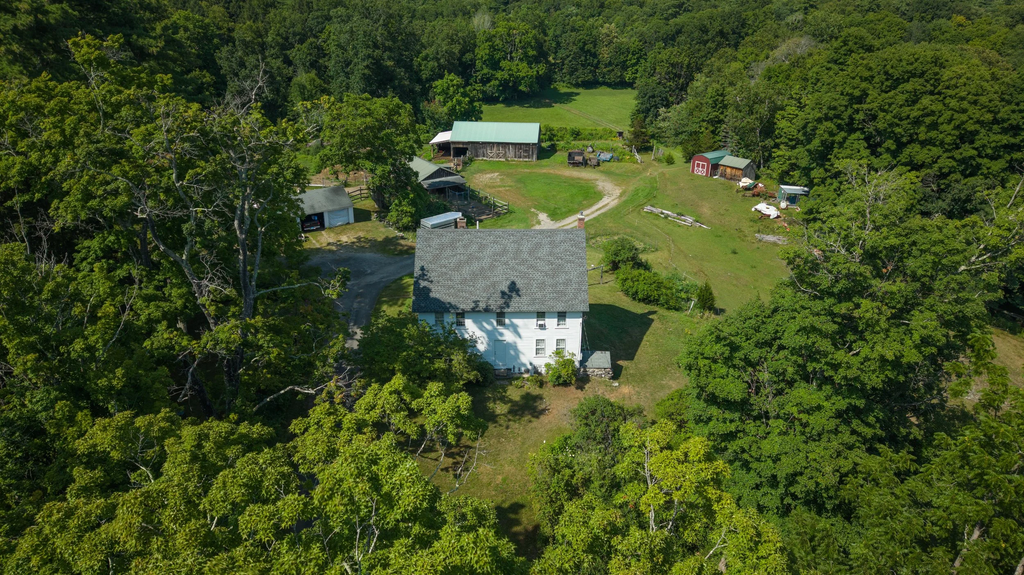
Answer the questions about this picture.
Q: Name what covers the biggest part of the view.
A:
trees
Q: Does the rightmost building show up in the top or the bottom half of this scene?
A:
top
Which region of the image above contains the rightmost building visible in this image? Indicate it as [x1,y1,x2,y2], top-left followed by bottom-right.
[784,181,813,208]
